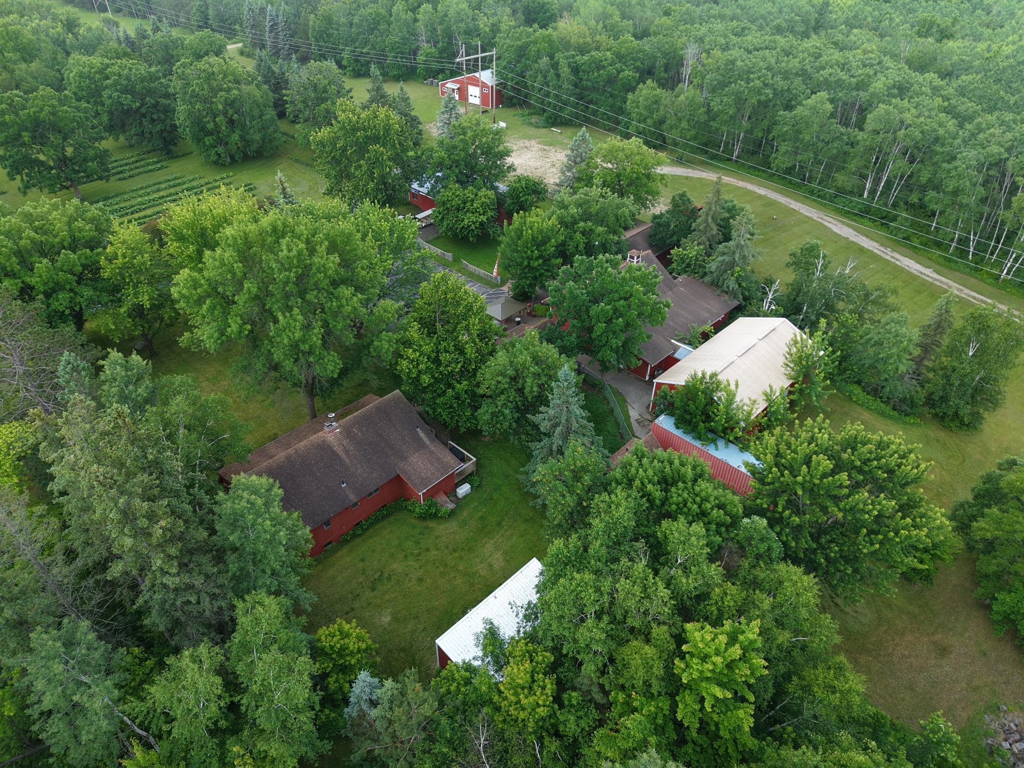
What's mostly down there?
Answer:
trees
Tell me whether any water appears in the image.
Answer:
No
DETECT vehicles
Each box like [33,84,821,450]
[394,206,411,225]
[413,208,438,230]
